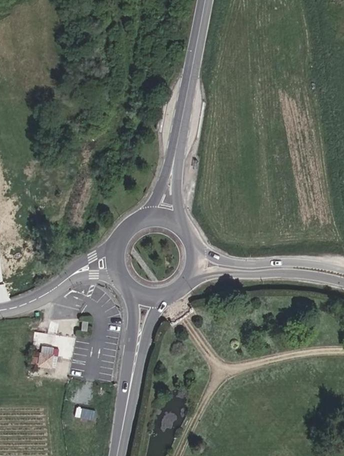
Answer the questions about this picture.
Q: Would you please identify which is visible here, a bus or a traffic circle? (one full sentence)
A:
Looking from above, you can make out a traffic circle.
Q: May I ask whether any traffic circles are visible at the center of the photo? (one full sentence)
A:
Yes, the scene does show a traffic circle at the center of the photo.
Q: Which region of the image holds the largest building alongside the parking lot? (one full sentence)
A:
The largest building alongside the parking lot sits in the bottom left section of the image.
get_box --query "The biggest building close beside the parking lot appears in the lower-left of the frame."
[32,322,76,370]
